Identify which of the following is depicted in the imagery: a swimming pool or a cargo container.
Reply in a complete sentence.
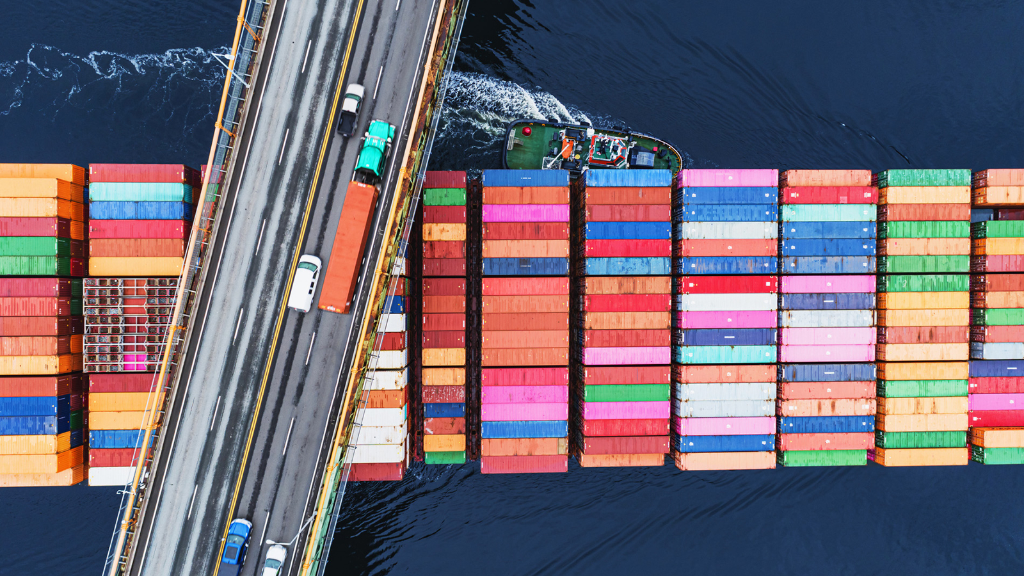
There is a cargo container in the scene.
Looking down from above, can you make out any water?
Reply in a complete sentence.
Yes, water shows up in the scene.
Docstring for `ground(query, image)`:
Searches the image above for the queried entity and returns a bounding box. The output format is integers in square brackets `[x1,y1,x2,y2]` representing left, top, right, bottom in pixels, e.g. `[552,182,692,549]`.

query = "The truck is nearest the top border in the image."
[335,82,363,142]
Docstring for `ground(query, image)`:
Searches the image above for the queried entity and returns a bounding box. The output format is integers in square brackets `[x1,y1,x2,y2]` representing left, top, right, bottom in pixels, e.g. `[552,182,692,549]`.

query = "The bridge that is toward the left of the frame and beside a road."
[100,0,473,576]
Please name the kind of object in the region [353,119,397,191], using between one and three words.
truck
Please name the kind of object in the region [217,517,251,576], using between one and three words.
truck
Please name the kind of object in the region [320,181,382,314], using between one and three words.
shipping container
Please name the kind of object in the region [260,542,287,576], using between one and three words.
car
